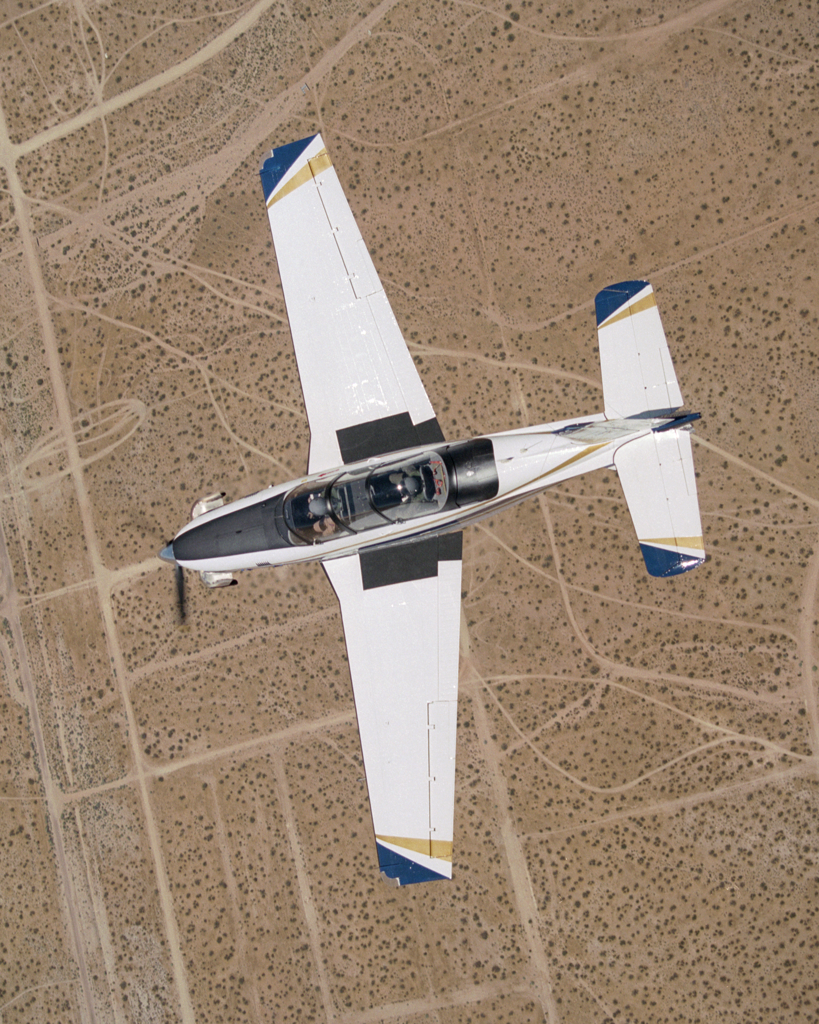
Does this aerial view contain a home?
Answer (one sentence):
No, no home is visible in the scene.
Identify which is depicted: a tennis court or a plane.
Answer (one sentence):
There is a plane in the scene.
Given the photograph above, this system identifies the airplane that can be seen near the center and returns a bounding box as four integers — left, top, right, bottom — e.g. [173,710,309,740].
[145,133,705,886]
